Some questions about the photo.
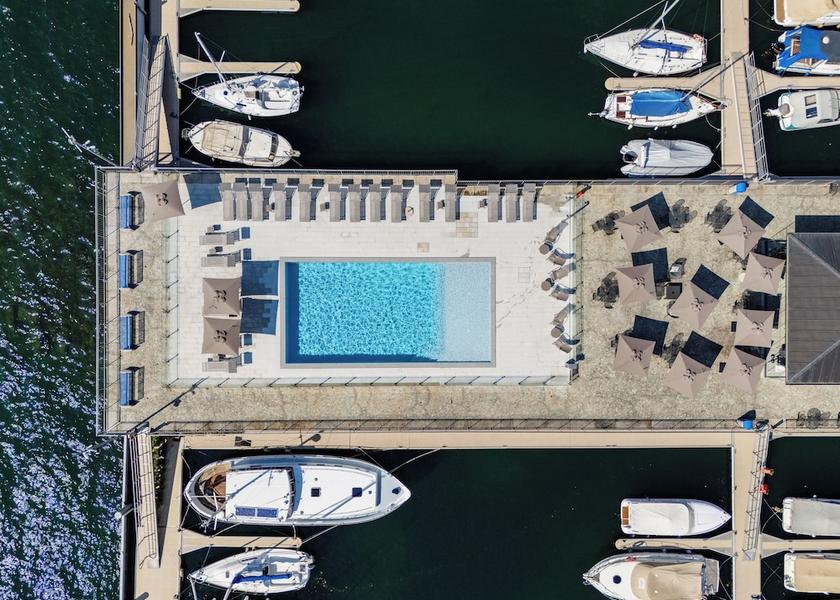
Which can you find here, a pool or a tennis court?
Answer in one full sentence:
There is a pool in the scene.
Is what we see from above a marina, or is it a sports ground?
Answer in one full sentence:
It's a marina.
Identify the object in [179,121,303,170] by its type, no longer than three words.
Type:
boat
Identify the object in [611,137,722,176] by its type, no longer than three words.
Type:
boat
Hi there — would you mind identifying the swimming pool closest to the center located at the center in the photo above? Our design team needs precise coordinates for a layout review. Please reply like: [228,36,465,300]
[280,257,495,368]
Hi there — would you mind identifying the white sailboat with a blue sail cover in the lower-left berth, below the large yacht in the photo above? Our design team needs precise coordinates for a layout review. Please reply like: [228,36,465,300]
[181,547,317,600]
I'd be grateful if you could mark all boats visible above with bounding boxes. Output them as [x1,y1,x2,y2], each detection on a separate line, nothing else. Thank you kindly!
[181,547,317,600]
[751,28,840,78]
[584,0,722,79]
[180,447,437,539]
[611,137,722,176]
[582,547,735,600]
[755,88,840,132]
[748,0,840,30]
[762,549,840,600]
[587,51,755,132]
[179,121,303,170]
[178,31,305,152]
[617,492,735,537]
[760,491,840,537]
